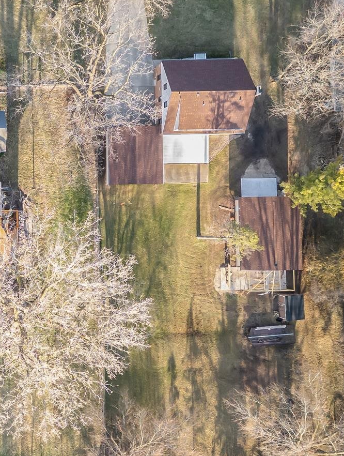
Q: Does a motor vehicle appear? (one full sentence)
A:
No, there appears to be no motor vehicle in this shot.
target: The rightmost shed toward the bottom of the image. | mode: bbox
[273,295,305,321]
